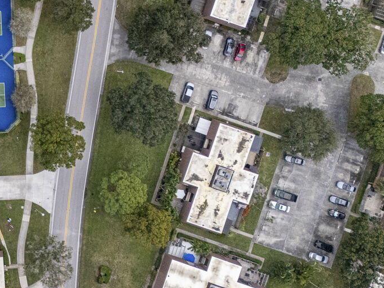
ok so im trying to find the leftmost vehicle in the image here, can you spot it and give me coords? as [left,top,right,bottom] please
[181,81,194,103]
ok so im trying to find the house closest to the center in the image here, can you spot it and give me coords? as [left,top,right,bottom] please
[162,115,270,237]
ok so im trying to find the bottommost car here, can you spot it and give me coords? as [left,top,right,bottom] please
[308,252,327,264]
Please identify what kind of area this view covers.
residential area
